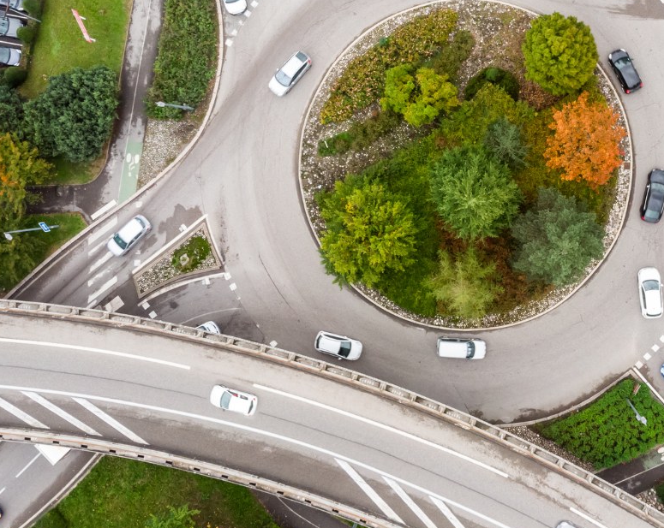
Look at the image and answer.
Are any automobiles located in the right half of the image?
Yes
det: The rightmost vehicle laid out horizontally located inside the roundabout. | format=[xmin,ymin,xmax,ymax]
[437,336,486,362]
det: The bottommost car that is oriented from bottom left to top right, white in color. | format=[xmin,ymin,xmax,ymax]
[107,212,157,259]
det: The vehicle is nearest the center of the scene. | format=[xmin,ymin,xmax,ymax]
[313,330,365,361]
